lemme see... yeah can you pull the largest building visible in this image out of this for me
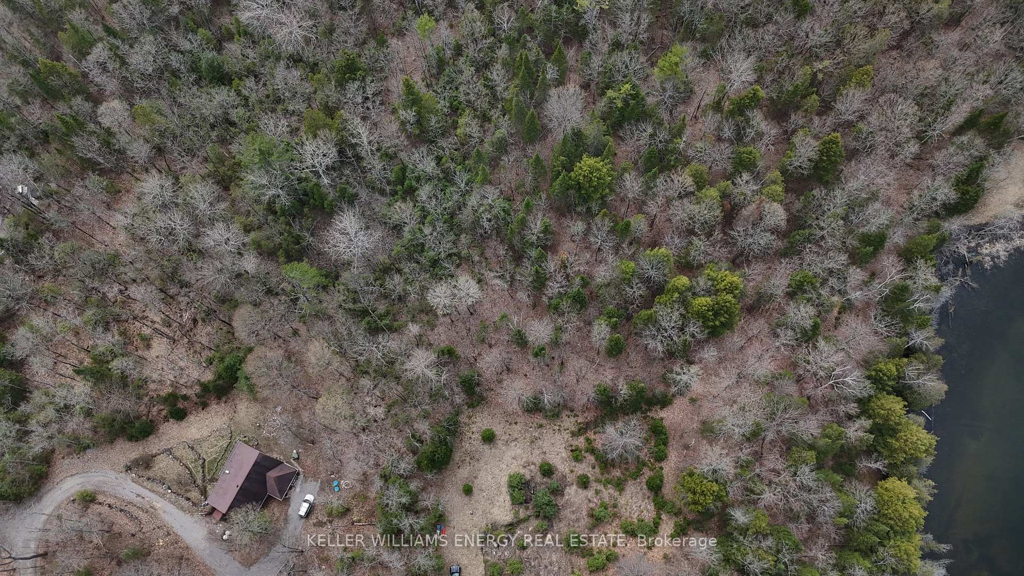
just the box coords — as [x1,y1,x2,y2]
[205,441,300,527]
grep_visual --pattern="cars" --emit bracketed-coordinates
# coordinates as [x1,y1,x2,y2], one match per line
[294,493,316,521]
[449,562,461,576]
